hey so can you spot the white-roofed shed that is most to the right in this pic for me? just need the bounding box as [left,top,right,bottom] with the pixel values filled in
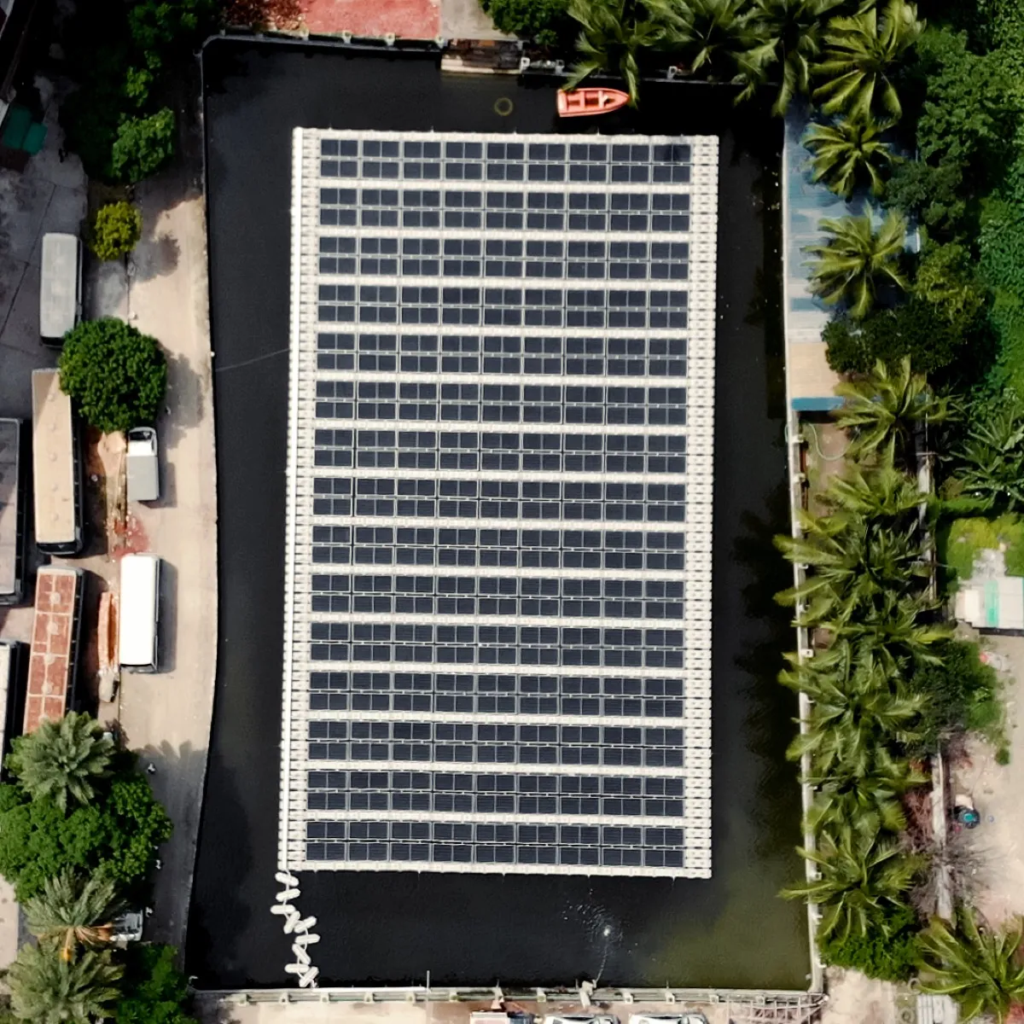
[955,578,1024,630]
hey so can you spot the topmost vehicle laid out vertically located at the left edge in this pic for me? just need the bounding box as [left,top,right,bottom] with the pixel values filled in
[42,234,89,351]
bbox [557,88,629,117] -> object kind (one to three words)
boat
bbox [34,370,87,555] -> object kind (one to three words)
bus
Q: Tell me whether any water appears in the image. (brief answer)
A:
Yes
